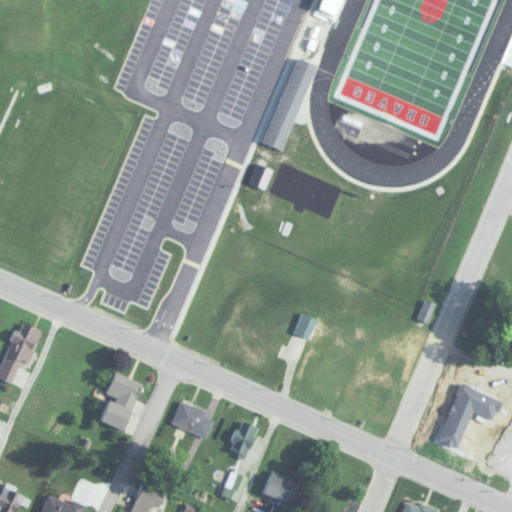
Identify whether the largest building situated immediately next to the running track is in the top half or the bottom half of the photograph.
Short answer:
top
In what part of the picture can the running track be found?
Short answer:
top right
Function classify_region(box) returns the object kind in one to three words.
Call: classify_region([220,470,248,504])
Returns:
building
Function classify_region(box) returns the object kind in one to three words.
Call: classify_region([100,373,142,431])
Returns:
house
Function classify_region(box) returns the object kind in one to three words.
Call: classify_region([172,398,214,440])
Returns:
house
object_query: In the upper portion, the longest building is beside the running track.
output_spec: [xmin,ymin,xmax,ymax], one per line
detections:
[253,56,318,152]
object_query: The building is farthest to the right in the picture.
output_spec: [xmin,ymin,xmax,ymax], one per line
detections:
[436,384,503,452]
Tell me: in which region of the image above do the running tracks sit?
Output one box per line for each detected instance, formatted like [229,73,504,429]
[304,0,512,193]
